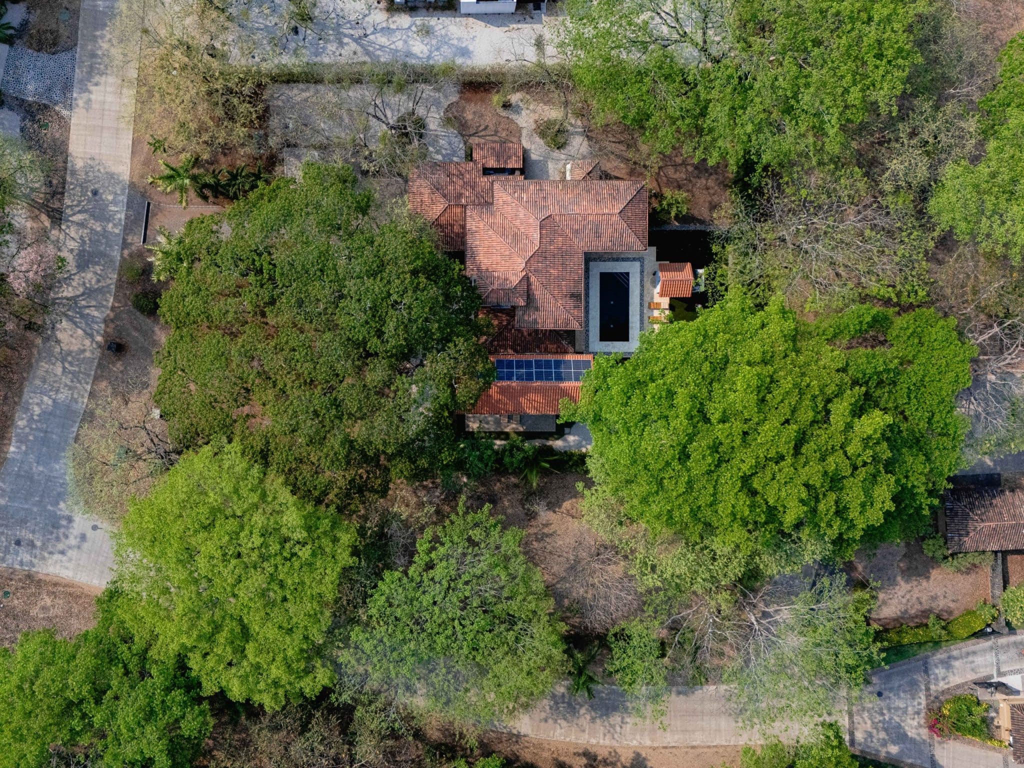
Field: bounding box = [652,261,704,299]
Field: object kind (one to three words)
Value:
building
